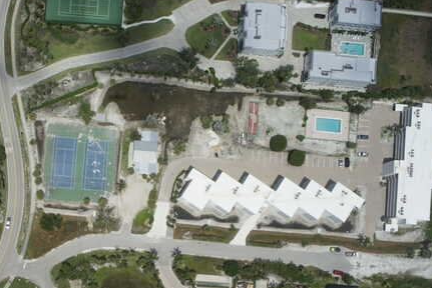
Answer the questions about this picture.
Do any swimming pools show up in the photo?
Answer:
Yes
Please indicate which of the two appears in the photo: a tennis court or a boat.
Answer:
tennis court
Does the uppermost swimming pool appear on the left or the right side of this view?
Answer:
right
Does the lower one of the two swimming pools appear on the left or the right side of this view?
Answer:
right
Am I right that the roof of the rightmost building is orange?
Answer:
No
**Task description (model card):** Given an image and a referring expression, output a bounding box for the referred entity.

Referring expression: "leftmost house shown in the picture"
[129,130,159,174]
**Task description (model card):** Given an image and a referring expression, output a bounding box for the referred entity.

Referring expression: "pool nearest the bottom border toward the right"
[306,110,348,140]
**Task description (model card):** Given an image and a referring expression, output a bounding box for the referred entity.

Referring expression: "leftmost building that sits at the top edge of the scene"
[239,2,286,57]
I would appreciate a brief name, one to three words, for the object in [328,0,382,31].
building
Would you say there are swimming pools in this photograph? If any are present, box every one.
[332,32,377,58]
[306,110,348,140]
